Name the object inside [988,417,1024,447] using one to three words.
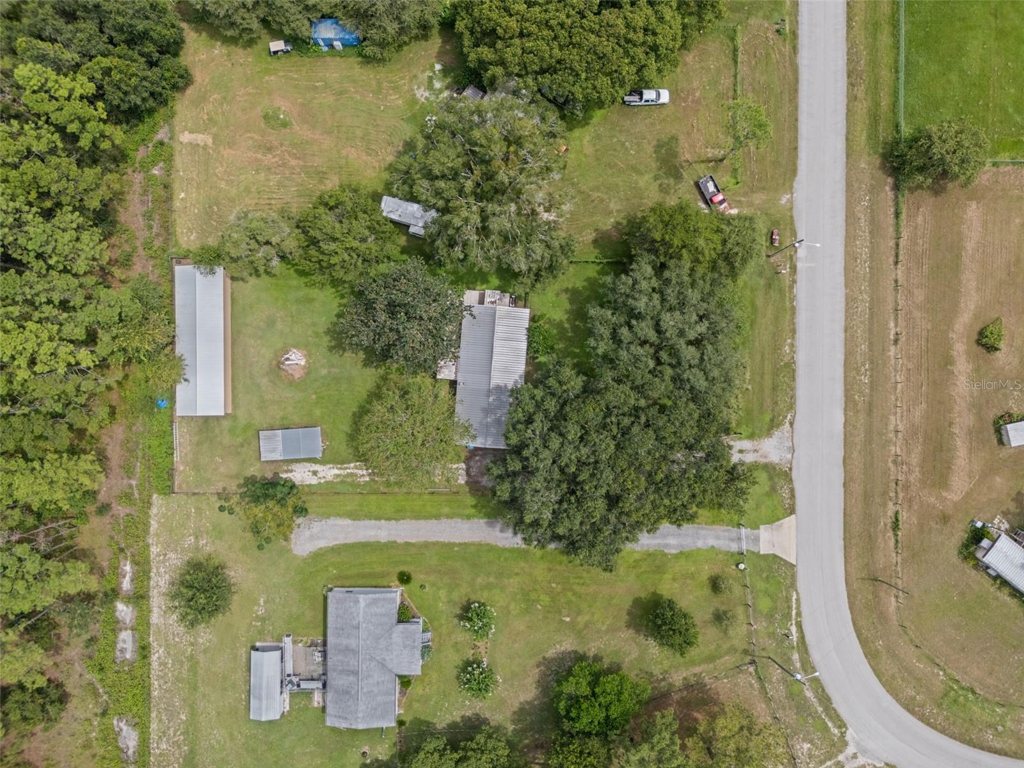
shed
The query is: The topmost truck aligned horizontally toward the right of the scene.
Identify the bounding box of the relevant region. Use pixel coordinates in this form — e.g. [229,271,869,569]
[622,87,669,108]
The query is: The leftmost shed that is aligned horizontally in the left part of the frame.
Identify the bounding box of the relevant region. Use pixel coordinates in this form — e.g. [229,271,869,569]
[259,427,323,460]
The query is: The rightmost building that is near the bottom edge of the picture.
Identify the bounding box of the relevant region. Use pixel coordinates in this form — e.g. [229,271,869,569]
[326,585,422,731]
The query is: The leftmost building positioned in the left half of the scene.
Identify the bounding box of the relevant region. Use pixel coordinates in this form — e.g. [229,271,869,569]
[175,265,231,416]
